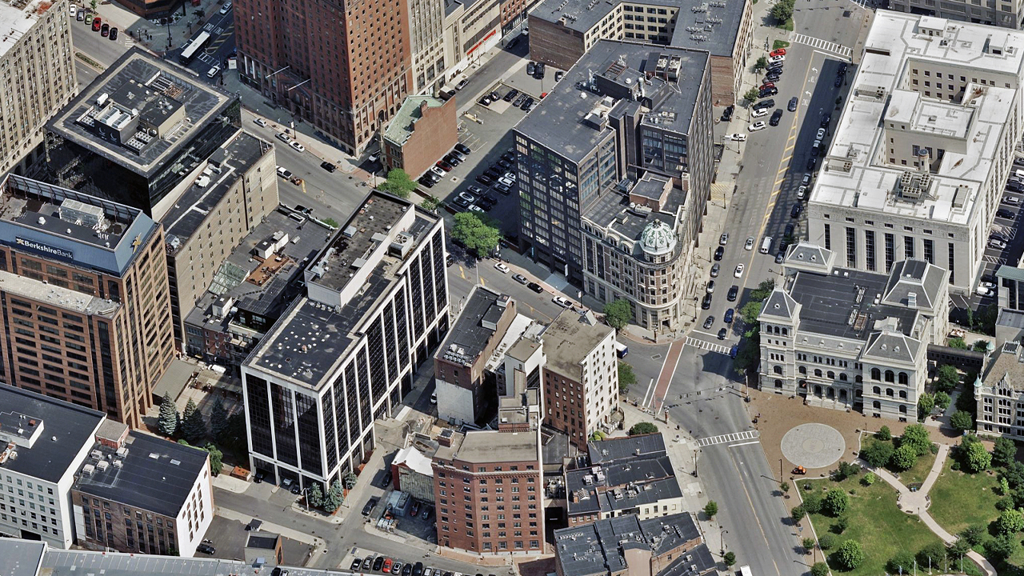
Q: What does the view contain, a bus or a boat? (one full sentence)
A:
This aerial view contains a bus.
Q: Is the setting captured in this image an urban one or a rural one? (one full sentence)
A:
From above, the setting appears urban.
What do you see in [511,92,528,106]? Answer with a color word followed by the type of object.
gray vehicle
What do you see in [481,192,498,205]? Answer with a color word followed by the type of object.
black vehicle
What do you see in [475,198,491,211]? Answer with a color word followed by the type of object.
black vehicle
